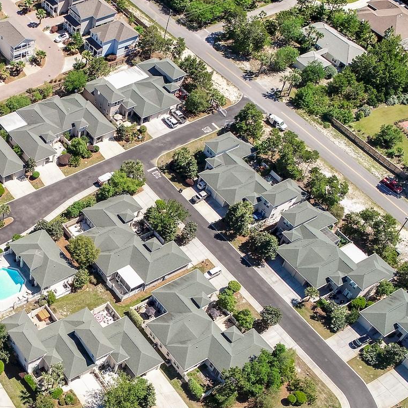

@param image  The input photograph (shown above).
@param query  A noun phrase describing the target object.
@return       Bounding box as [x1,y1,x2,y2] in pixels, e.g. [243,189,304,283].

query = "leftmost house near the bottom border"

[0,299,165,400]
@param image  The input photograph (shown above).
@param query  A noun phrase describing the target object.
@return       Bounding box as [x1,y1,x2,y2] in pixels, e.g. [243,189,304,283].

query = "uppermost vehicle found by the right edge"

[378,179,404,194]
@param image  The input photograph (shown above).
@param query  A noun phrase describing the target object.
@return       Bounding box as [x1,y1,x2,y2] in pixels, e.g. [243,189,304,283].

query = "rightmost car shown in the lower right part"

[348,333,372,349]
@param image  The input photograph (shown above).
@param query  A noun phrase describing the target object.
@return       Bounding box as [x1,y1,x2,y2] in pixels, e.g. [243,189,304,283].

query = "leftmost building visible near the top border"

[0,13,36,64]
